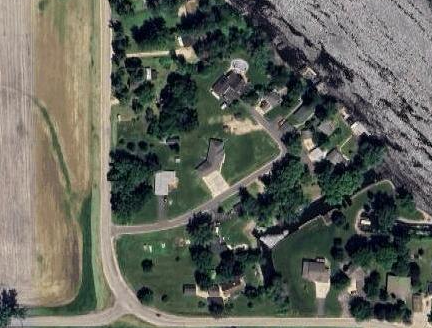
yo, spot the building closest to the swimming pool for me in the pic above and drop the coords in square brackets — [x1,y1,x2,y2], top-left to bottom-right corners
[212,65,241,102]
